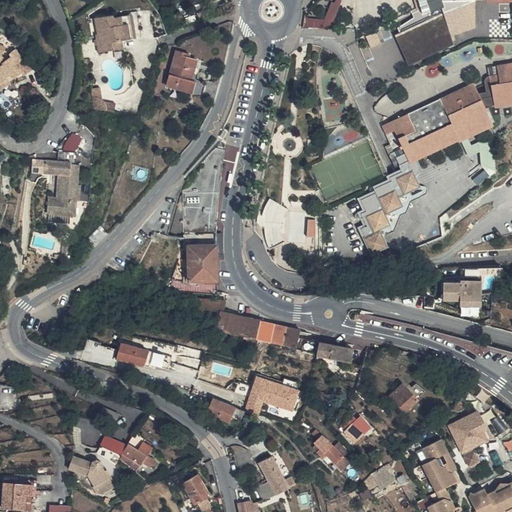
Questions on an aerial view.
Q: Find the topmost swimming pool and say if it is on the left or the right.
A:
left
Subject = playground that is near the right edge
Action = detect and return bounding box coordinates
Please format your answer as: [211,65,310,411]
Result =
[432,42,512,73]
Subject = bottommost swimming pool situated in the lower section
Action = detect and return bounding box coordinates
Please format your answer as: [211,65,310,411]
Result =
[298,492,312,508]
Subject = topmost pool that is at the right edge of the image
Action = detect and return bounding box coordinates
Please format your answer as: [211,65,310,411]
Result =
[482,274,496,292]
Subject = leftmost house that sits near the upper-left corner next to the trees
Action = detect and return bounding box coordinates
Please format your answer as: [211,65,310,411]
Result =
[0,44,32,90]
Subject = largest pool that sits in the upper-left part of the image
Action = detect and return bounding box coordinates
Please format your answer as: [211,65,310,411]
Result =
[100,58,124,92]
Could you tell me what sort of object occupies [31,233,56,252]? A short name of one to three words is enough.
swimming pool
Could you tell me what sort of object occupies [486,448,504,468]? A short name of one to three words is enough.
swimming pool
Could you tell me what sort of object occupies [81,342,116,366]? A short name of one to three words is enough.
house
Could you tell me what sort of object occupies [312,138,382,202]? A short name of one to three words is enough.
sports court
